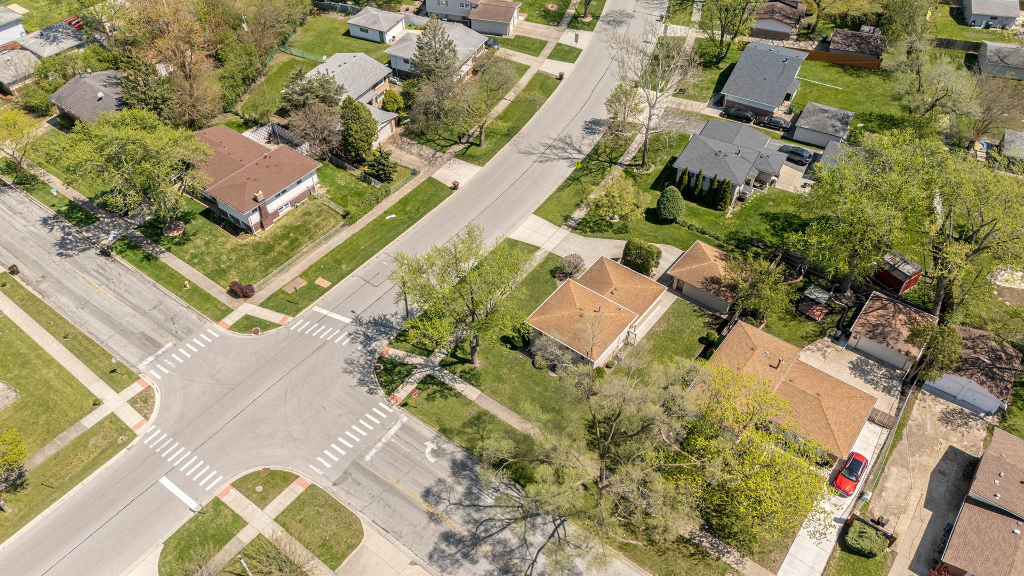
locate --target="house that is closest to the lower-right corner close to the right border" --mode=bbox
[938,423,1024,576]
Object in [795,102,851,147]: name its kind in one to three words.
building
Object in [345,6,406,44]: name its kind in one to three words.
building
